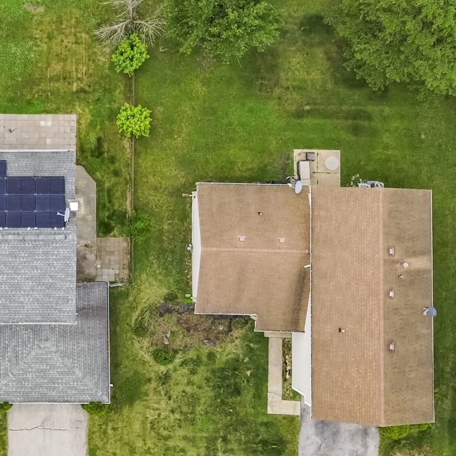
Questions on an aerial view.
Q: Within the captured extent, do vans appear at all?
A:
No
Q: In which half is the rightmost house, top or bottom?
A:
bottom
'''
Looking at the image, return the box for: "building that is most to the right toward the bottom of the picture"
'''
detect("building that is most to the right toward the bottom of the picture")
[183,181,439,427]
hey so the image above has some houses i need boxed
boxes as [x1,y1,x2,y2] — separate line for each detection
[183,181,439,427]
[0,148,122,405]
